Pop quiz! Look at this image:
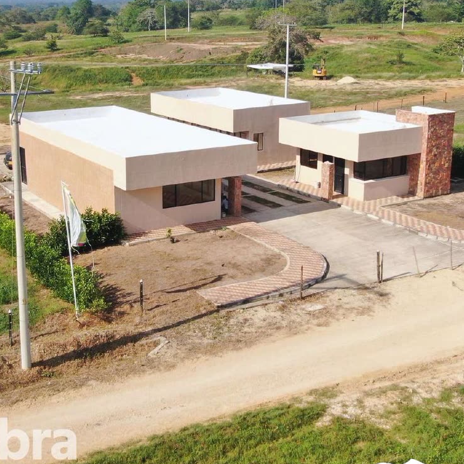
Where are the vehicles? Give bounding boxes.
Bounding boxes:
[312,55,328,81]
[1,144,12,164]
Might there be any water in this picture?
No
